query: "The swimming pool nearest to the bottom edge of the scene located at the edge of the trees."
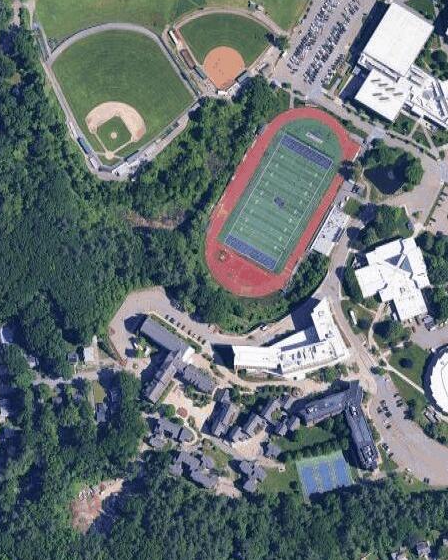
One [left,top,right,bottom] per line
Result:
[0,324,22,344]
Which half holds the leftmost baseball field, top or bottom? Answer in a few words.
top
